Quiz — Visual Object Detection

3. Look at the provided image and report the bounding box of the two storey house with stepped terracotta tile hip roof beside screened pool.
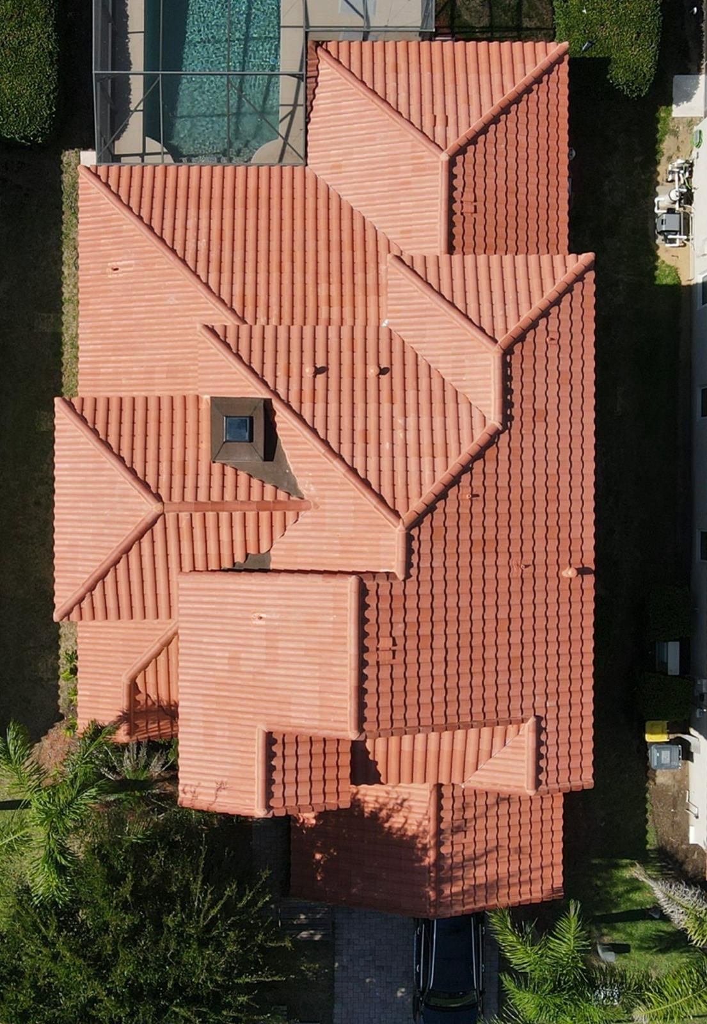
[51,39,599,923]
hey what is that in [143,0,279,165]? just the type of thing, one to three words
swimming pool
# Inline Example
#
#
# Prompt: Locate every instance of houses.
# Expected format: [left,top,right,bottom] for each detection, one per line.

[51,39,599,923]
[688,109,707,863]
